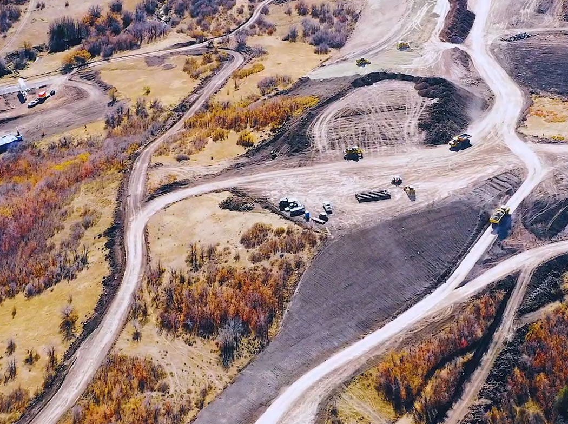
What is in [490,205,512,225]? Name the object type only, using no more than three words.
vehicle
